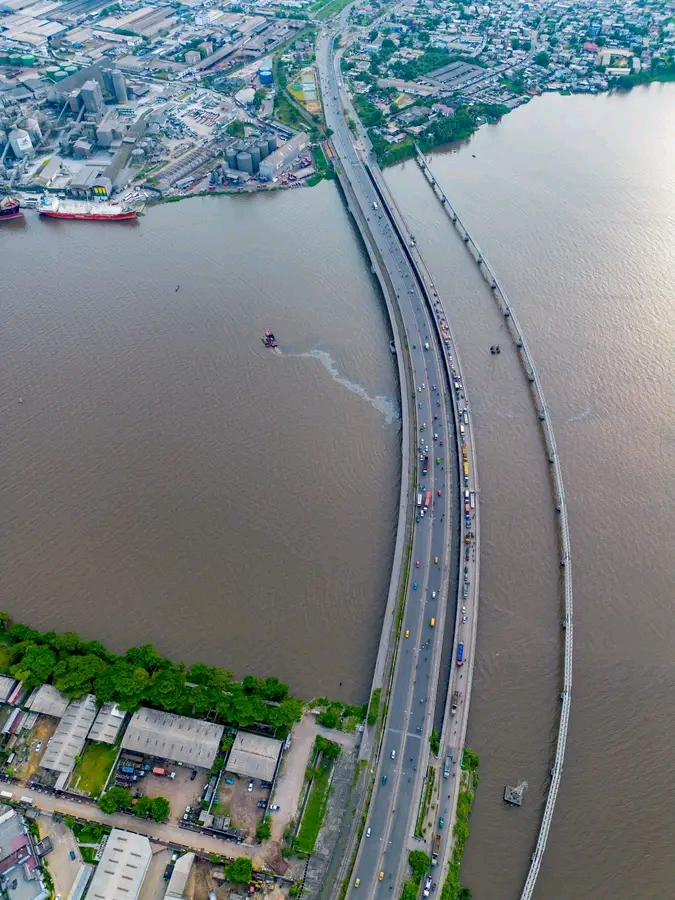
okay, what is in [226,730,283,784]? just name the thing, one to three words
building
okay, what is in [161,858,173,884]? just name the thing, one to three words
vehicle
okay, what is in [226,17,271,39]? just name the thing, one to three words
building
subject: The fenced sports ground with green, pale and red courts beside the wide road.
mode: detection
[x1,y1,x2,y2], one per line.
[287,71,322,115]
